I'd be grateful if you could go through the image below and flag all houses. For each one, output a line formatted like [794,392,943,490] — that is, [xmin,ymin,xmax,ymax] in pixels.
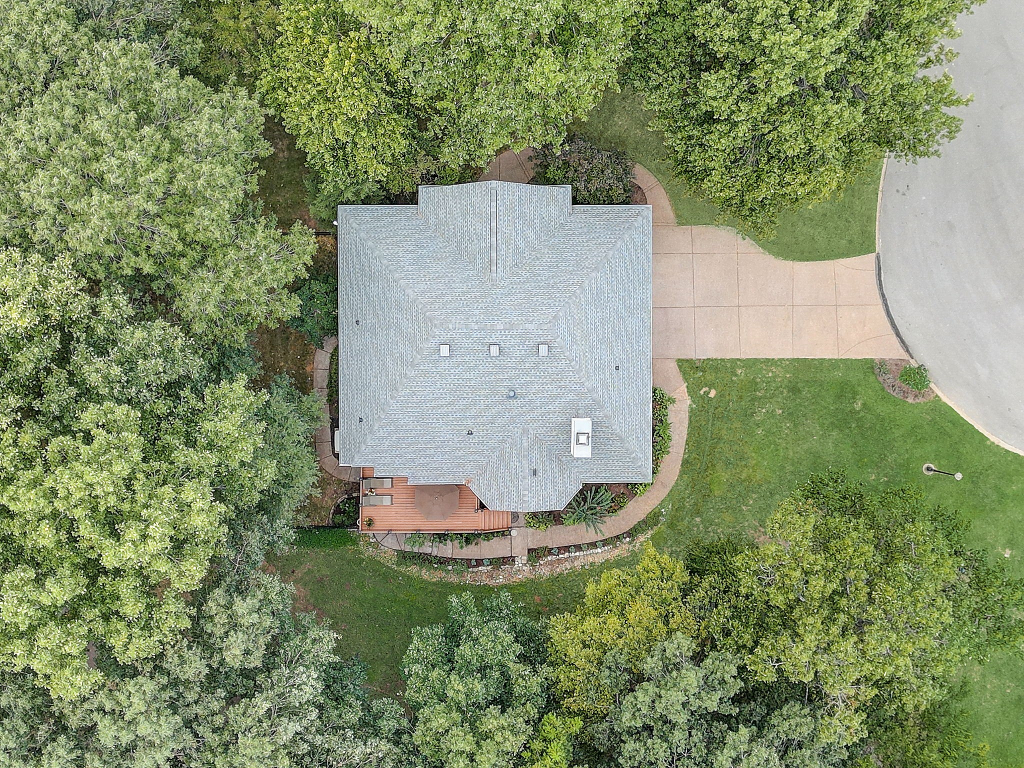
[337,180,654,513]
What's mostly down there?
trees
